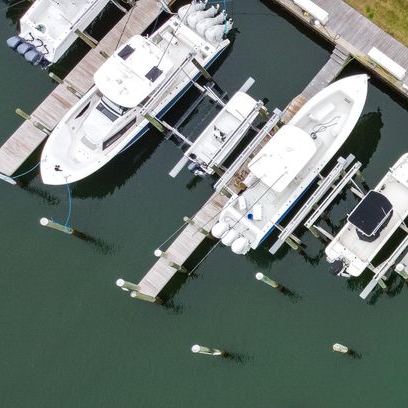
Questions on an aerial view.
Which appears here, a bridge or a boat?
boat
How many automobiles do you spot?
0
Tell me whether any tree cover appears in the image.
No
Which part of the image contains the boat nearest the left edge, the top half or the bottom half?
top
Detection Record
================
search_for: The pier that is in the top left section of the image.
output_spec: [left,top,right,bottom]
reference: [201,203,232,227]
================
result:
[0,0,176,175]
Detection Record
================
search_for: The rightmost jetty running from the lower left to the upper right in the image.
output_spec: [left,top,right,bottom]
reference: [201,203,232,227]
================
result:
[117,39,355,302]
